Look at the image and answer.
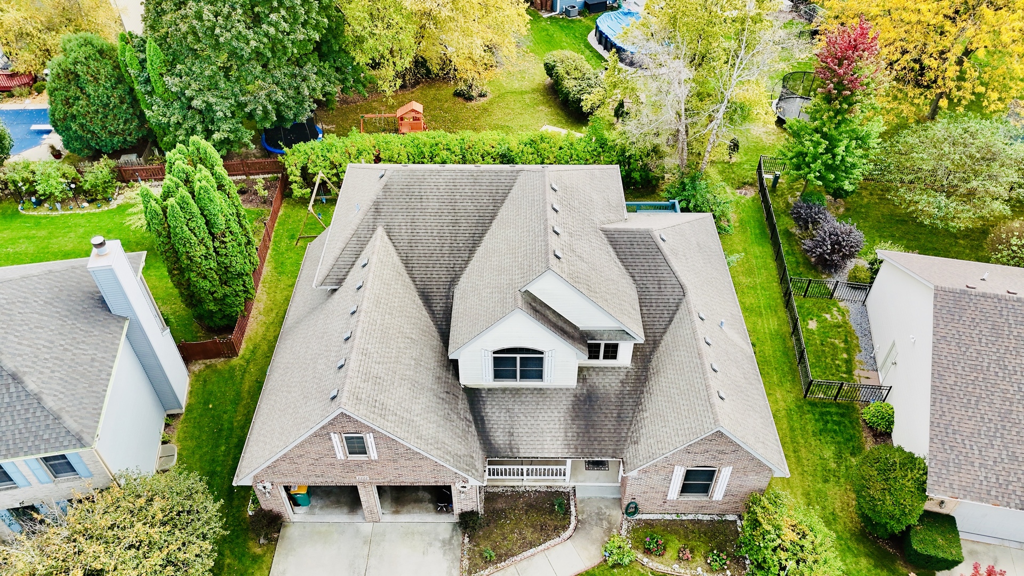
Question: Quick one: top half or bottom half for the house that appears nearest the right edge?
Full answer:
The bottom half of the photo is where the house that appears nearest the right edge is.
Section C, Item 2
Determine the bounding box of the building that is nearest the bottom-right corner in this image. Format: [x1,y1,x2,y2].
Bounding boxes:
[867,254,1024,548]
